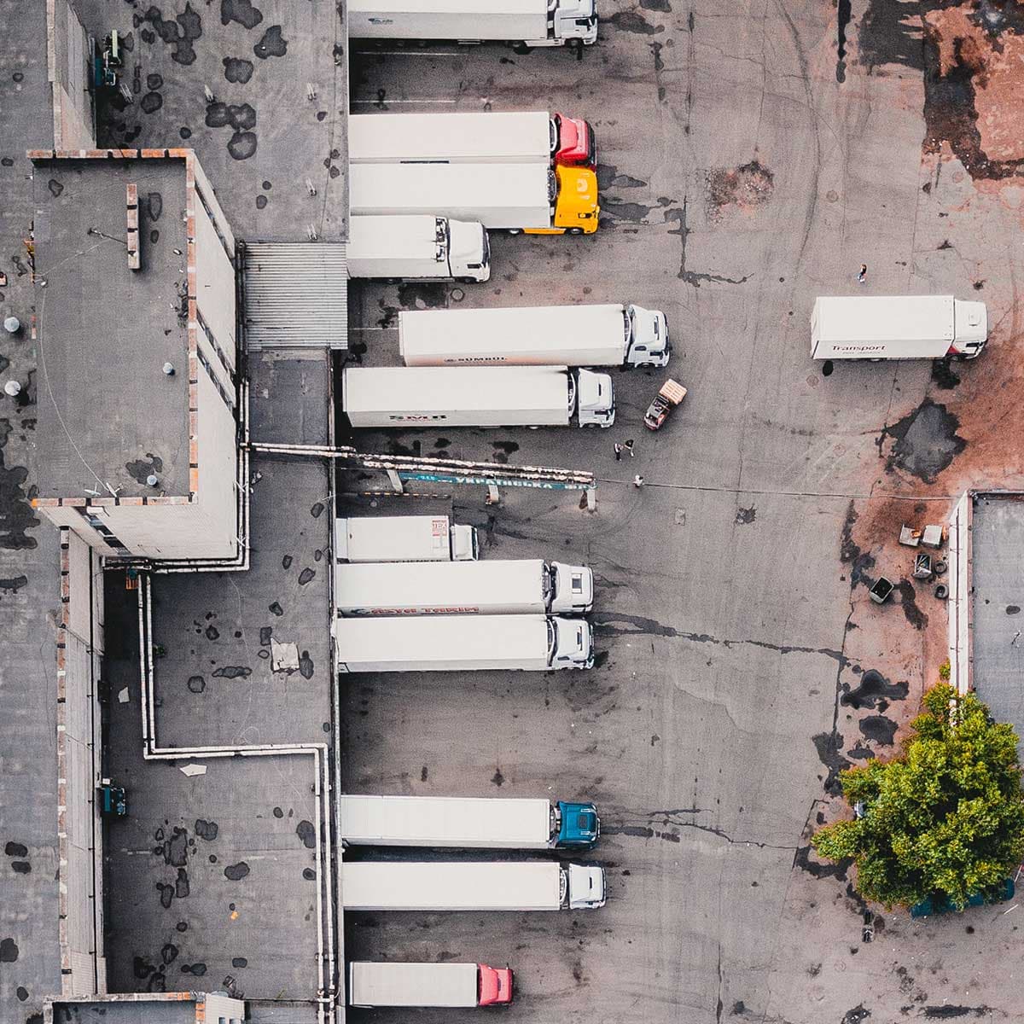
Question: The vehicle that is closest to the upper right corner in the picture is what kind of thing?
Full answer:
In the photo, the vehicle that is closest to the upper right corner shows up as a truck.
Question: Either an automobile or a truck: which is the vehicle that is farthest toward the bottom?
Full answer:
The vehicle that is farthest toward the bottom in the image is a truck.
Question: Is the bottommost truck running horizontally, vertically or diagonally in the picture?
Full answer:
Seen from above, the bottommost truck lies horizontally.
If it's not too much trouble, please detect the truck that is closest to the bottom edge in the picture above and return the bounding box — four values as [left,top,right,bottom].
[351,962,514,1010]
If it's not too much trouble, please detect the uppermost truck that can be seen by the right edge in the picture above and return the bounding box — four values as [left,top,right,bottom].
[810,295,992,365]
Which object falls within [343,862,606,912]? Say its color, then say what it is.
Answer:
white truck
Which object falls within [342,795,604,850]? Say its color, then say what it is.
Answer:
white truck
